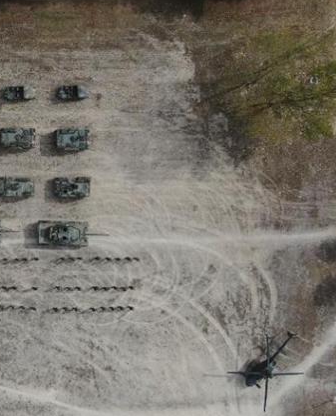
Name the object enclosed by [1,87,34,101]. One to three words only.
car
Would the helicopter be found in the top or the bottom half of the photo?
bottom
